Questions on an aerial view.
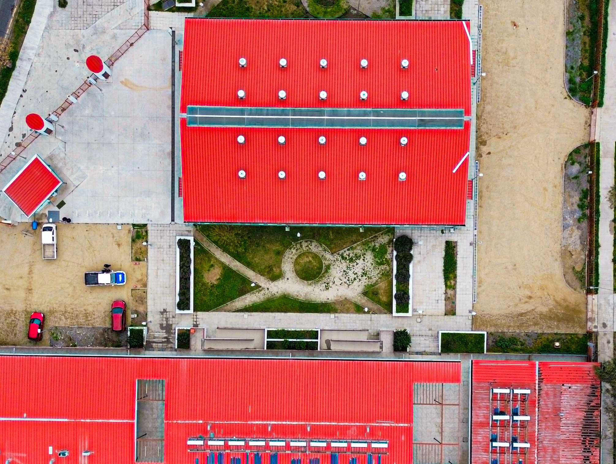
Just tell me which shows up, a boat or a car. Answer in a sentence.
The image shows a car.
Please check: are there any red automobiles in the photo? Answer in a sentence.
Yes, there's a red automobile here.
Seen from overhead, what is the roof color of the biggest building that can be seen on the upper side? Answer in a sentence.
The roof over the biggest building that can be seen on the upper side appears red.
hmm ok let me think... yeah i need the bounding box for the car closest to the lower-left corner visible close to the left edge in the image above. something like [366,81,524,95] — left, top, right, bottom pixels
[28,312,46,342]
